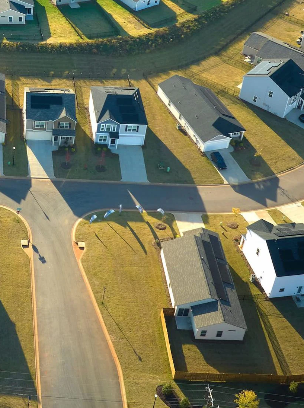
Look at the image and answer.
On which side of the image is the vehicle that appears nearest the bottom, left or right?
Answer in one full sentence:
The vehicle that appears nearest the bottom is on the right side of the image.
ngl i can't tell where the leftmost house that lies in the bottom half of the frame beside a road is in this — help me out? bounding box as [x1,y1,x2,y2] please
[152,219,251,341]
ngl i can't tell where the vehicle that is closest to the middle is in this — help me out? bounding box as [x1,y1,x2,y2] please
[211,149,231,169]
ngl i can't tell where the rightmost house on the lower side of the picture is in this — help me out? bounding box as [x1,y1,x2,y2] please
[237,218,304,301]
